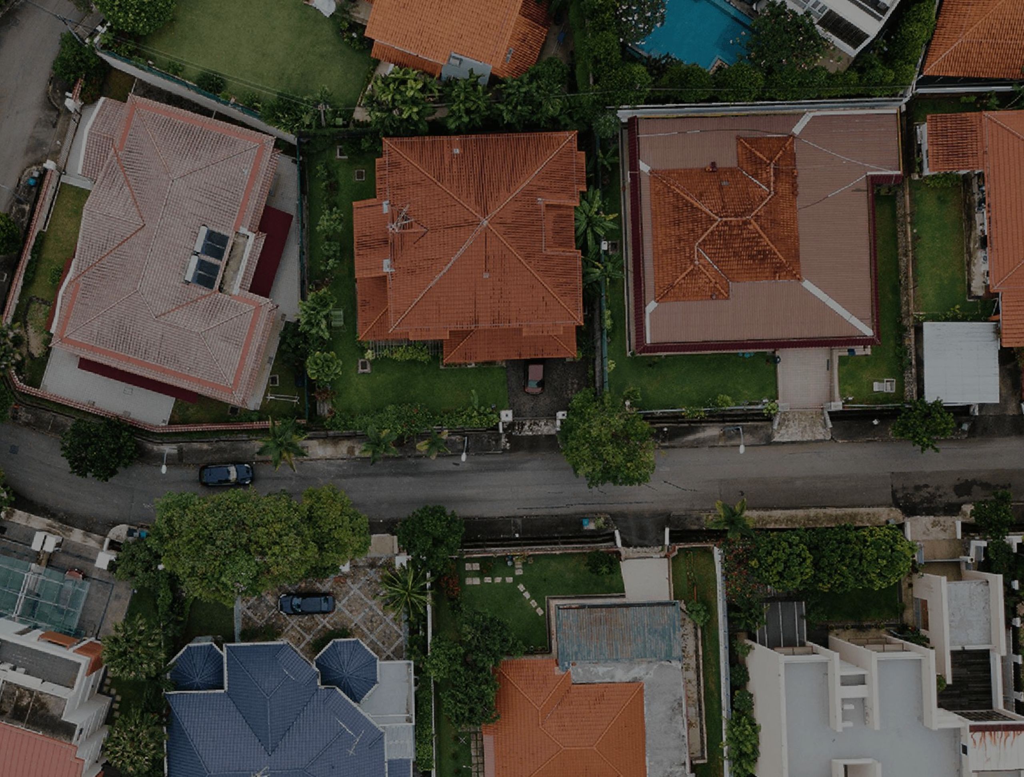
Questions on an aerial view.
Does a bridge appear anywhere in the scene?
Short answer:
Yes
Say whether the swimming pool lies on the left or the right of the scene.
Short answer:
right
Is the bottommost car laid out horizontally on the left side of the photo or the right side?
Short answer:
left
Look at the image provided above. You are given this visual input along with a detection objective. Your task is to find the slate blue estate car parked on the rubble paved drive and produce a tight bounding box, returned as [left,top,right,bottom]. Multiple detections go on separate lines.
[278,590,337,619]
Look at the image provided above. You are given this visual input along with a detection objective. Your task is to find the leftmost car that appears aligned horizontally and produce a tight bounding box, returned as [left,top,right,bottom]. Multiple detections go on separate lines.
[196,461,256,489]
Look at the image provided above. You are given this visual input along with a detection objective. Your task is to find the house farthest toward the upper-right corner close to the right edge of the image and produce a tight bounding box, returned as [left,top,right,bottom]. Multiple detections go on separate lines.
[920,0,1024,87]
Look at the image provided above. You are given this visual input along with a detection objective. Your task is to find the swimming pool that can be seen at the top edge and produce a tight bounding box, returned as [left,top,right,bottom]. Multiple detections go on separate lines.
[634,0,762,70]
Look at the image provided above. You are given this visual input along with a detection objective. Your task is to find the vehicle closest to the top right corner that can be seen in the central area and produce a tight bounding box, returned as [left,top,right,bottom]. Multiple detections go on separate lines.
[522,359,547,396]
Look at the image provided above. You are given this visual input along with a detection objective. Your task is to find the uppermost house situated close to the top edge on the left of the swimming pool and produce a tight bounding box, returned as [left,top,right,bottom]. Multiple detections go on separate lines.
[365,0,553,108]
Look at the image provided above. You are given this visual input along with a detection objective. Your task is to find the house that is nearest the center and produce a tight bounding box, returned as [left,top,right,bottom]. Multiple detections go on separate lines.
[353,129,586,366]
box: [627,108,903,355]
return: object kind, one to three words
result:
house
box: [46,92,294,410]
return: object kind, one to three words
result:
house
